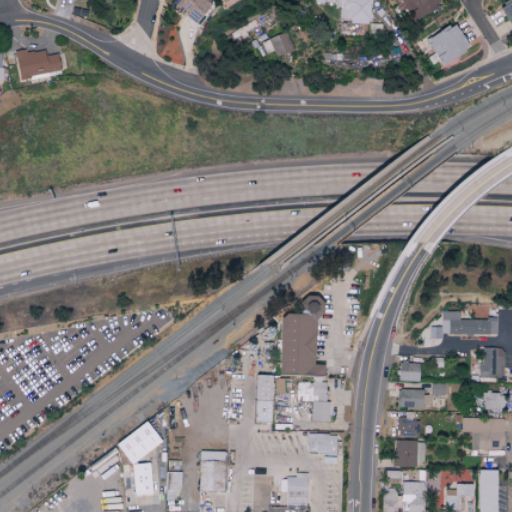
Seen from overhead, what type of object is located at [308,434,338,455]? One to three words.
building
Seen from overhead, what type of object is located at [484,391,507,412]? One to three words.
house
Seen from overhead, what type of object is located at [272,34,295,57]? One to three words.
barn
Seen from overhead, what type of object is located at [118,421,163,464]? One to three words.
building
